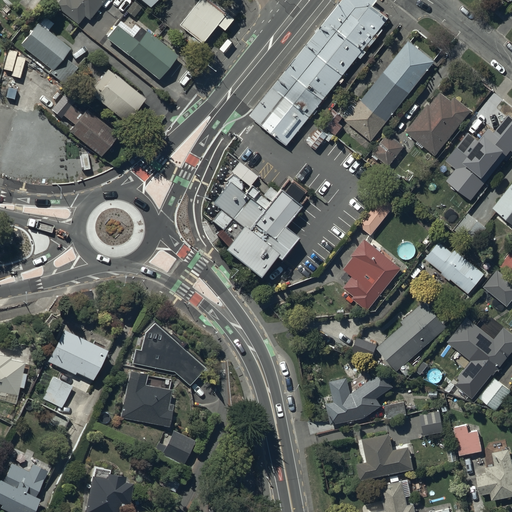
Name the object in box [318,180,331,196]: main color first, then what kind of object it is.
white vehicle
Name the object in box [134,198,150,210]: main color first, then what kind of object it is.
black vehicle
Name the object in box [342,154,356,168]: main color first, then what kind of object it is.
white car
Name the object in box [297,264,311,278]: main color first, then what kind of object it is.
gray car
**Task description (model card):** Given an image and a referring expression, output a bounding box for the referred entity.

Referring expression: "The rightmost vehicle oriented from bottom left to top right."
[470,116,485,132]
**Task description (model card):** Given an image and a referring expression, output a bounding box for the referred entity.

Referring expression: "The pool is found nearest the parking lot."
[396,240,415,260]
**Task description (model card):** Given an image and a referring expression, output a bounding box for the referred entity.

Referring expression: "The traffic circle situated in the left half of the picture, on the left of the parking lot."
[86,198,146,258]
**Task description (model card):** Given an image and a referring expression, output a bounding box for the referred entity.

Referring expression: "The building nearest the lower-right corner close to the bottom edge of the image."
[476,450,512,501]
